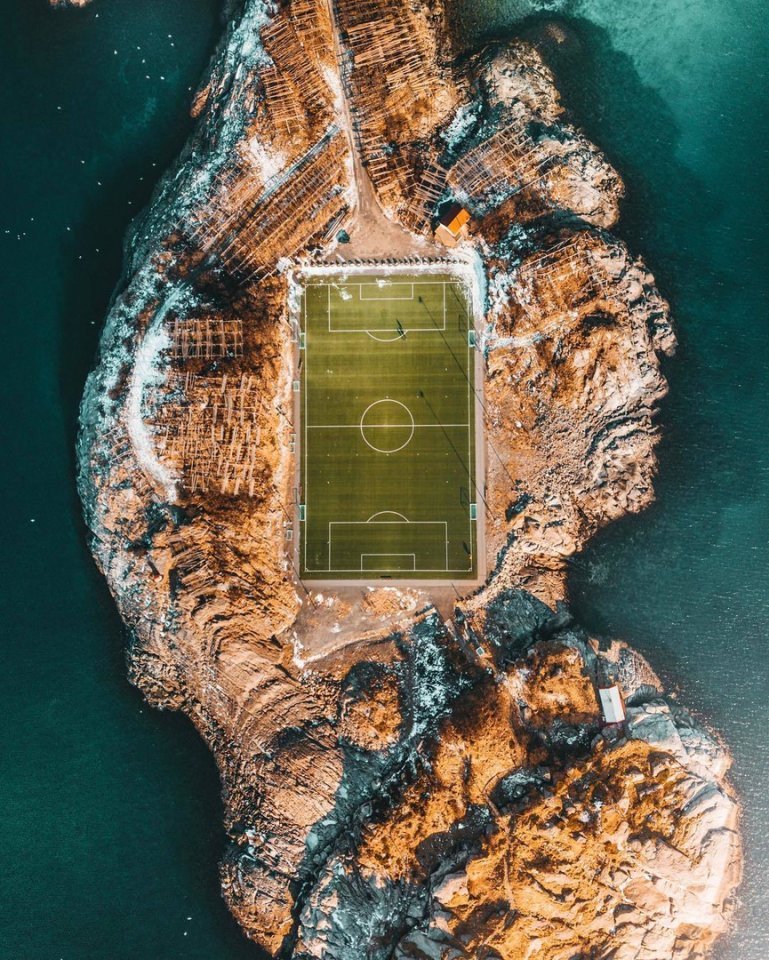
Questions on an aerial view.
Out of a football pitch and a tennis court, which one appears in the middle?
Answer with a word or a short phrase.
football pitch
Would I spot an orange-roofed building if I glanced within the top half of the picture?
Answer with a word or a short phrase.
Yes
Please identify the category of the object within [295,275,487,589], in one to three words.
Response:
soccer field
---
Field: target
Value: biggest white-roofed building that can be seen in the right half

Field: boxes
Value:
[597,683,624,722]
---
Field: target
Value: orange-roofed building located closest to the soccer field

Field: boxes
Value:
[440,207,470,246]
